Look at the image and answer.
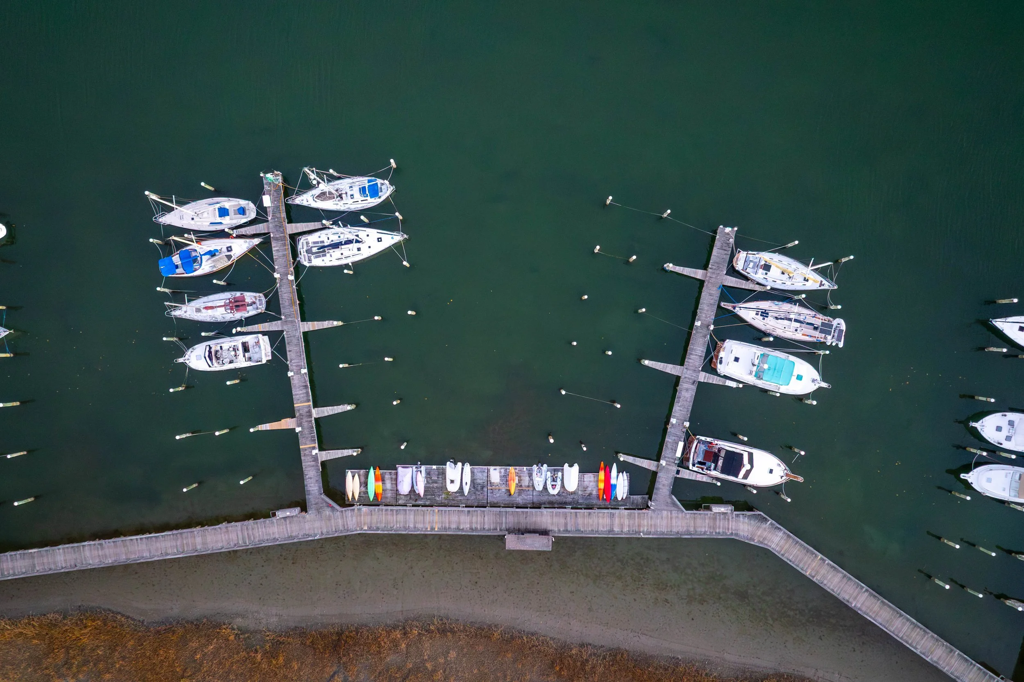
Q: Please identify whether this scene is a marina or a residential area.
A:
marina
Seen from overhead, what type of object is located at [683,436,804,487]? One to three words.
boat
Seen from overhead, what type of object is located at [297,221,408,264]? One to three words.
boat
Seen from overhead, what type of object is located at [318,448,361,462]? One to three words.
pier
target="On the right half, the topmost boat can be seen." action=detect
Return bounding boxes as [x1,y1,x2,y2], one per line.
[732,251,844,290]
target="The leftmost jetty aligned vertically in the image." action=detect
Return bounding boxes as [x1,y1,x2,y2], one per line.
[264,175,343,512]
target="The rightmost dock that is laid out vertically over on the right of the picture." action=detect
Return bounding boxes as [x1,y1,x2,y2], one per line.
[649,228,736,510]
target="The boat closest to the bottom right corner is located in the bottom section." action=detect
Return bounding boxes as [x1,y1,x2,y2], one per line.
[960,463,1024,506]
